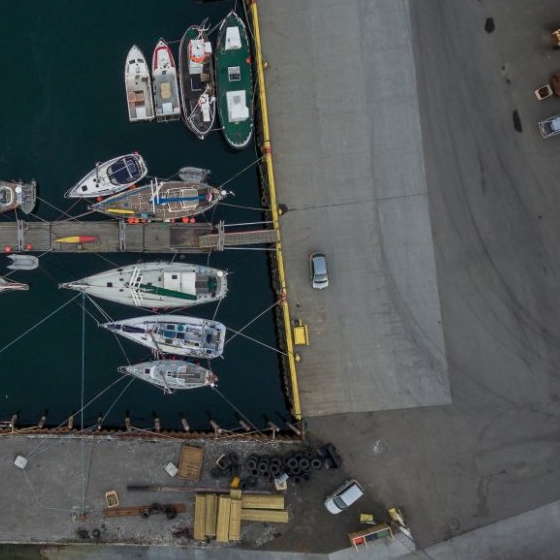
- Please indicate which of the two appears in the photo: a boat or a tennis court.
boat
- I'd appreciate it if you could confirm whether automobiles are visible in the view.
Yes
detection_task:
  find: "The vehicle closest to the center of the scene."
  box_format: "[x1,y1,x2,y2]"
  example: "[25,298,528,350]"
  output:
[308,252,329,289]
